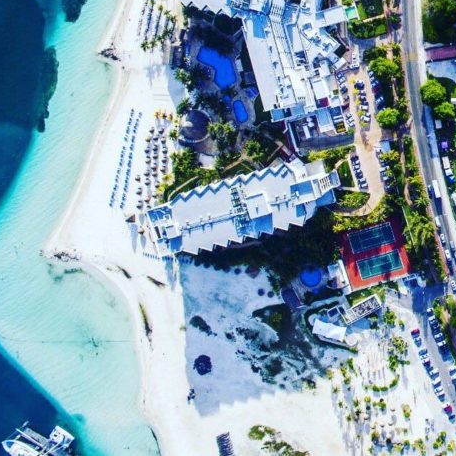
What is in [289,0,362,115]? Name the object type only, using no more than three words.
building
